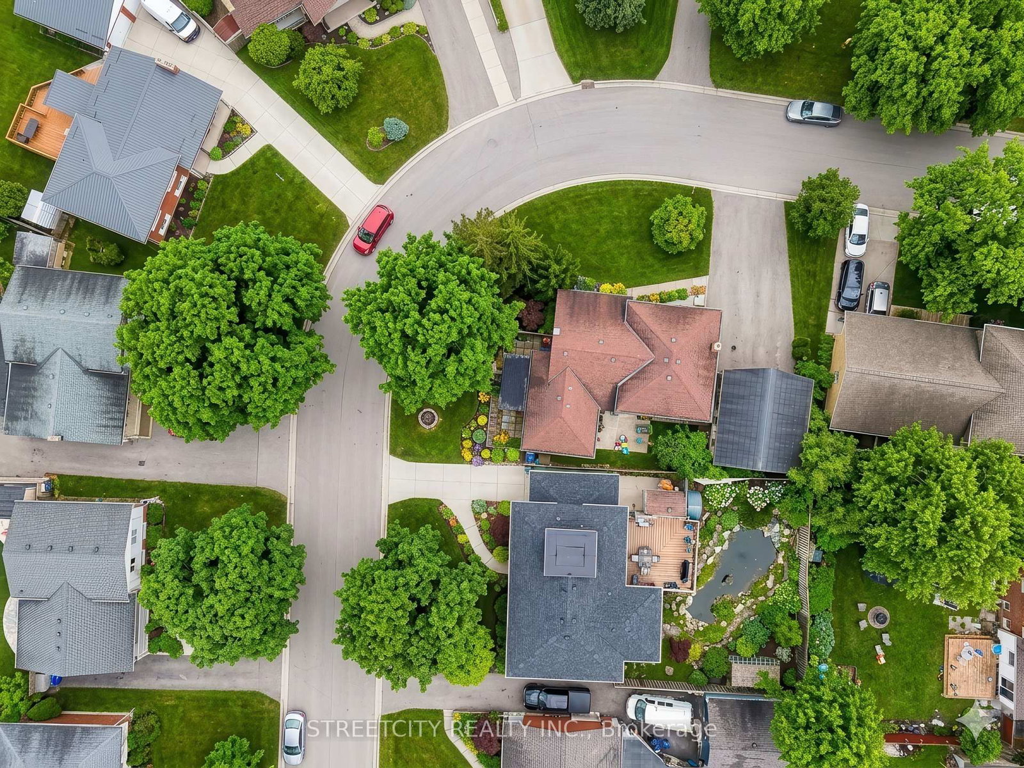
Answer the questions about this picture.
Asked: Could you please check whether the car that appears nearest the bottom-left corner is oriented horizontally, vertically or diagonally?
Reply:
vertically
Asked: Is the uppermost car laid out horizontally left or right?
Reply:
right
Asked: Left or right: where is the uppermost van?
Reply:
left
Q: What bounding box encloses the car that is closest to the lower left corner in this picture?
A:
[280,708,308,765]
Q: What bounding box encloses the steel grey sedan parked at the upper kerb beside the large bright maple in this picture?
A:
[785,98,841,127]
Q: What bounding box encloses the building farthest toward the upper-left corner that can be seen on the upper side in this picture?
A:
[12,0,138,53]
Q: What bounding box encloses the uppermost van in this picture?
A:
[133,0,203,47]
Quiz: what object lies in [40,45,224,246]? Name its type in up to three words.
house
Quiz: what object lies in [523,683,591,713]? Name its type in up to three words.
truck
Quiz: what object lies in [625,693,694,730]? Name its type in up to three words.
van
